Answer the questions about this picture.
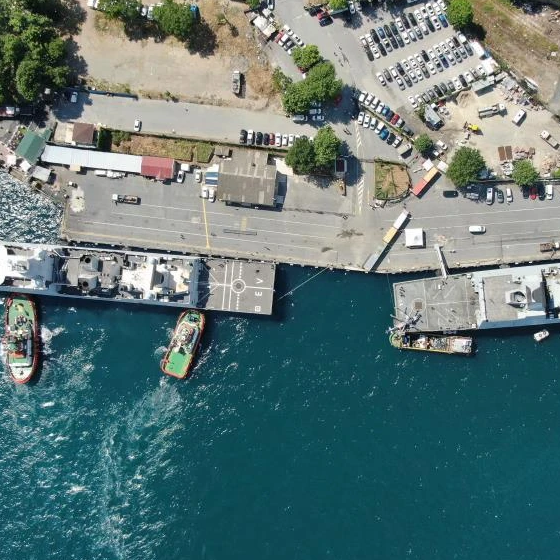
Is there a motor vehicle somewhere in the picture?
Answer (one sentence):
Yes, there is a motor vehicle in the image.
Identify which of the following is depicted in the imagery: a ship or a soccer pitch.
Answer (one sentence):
The image shows a ship.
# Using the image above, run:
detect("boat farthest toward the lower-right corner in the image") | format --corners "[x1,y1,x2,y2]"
[532,329,549,342]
